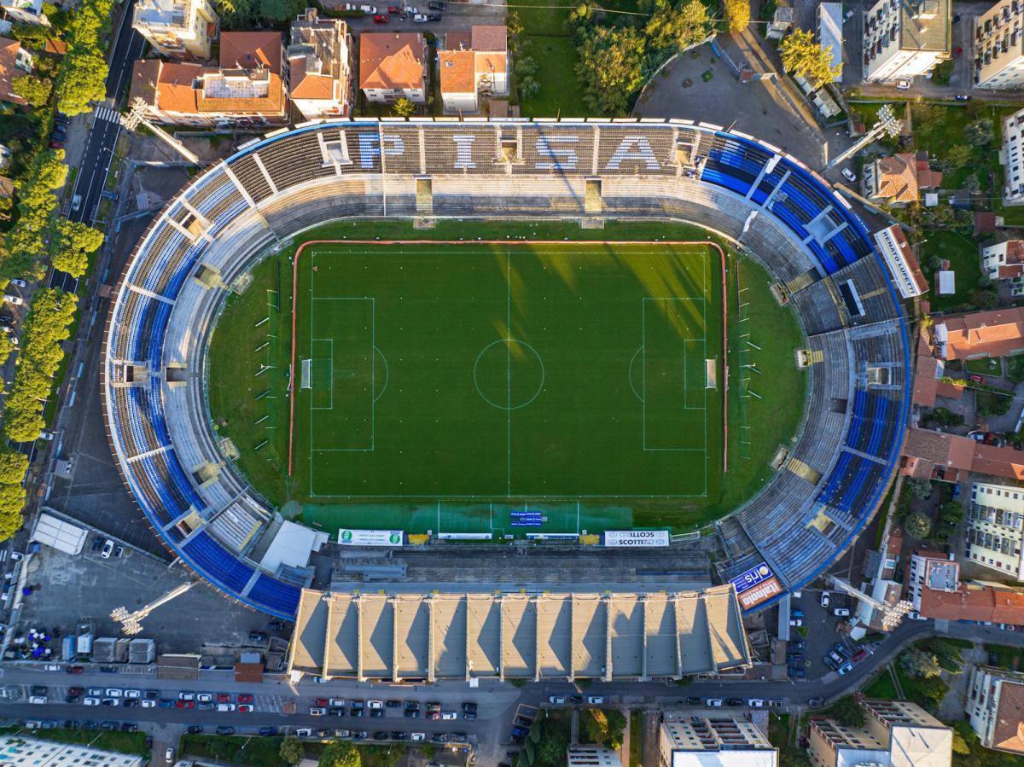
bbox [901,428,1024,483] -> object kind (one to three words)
house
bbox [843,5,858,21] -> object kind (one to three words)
vehicle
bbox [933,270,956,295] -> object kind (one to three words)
shed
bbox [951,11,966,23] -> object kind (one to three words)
vehicle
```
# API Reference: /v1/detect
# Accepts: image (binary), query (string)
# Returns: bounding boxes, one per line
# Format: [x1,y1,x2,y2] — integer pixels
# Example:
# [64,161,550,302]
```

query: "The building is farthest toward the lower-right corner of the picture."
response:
[957,658,1024,754]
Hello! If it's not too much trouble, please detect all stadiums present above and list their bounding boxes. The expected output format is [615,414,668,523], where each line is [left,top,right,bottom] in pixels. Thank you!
[92,114,916,688]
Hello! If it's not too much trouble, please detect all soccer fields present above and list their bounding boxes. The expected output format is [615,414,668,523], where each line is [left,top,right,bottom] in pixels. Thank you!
[203,217,810,546]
